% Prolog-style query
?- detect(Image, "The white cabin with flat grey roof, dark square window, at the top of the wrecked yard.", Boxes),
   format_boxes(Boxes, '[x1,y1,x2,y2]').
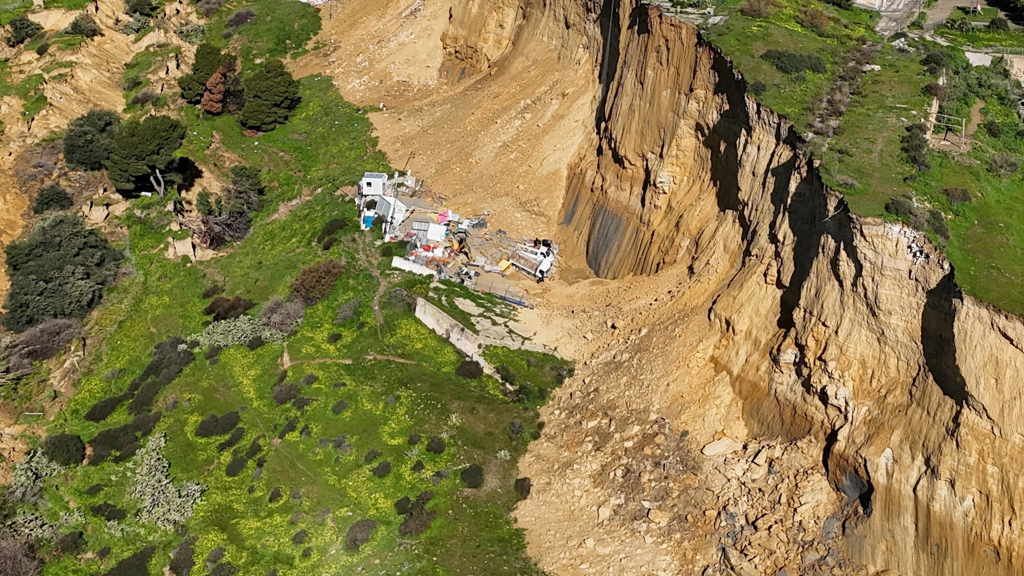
[365,170,391,197]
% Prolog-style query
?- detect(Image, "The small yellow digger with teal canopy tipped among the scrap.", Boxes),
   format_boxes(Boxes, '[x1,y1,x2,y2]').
[451,230,474,261]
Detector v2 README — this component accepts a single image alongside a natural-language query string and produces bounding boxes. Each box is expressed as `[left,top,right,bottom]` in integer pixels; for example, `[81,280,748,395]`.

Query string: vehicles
[517,246,562,268]
[451,230,474,261]
[505,252,553,282]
